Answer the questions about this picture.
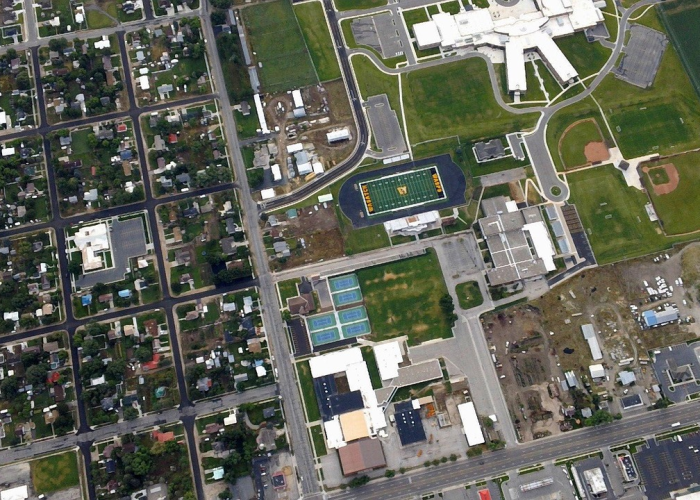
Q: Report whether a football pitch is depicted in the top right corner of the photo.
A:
Yes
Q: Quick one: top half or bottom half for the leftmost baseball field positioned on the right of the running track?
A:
top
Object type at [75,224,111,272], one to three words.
building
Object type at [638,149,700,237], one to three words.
baseball field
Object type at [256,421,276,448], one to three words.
house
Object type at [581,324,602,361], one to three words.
barn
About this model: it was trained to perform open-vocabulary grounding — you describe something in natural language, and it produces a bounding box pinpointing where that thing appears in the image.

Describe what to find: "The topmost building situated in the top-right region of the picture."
[412,0,606,94]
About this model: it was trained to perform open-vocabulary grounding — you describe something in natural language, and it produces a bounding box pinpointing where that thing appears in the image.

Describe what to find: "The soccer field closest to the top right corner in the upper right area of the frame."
[607,99,699,153]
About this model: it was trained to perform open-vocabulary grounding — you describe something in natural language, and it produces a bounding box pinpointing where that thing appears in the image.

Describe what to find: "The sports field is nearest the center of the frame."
[355,162,450,220]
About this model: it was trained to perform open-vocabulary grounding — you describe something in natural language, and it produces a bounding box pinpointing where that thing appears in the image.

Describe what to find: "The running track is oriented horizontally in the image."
[340,154,466,228]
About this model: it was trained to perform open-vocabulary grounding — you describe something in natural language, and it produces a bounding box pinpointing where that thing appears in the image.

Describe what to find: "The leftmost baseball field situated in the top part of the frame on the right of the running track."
[558,117,610,170]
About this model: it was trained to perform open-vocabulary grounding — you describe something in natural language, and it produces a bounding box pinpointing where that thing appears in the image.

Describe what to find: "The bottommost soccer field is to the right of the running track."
[586,200,647,241]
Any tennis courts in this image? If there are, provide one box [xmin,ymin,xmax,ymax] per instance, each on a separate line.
[338,305,368,324]
[311,327,341,346]
[340,320,371,339]
[328,273,359,293]
[307,312,337,332]
[333,288,363,306]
